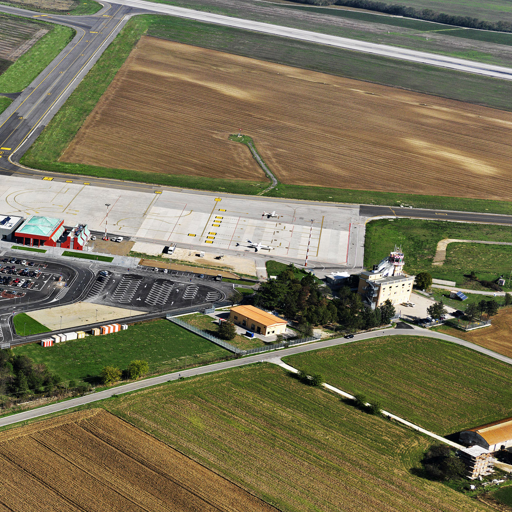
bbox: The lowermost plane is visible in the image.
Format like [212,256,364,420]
[248,235,272,251]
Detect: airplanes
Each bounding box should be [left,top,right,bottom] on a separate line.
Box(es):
[262,210,280,217]
[248,235,272,251]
